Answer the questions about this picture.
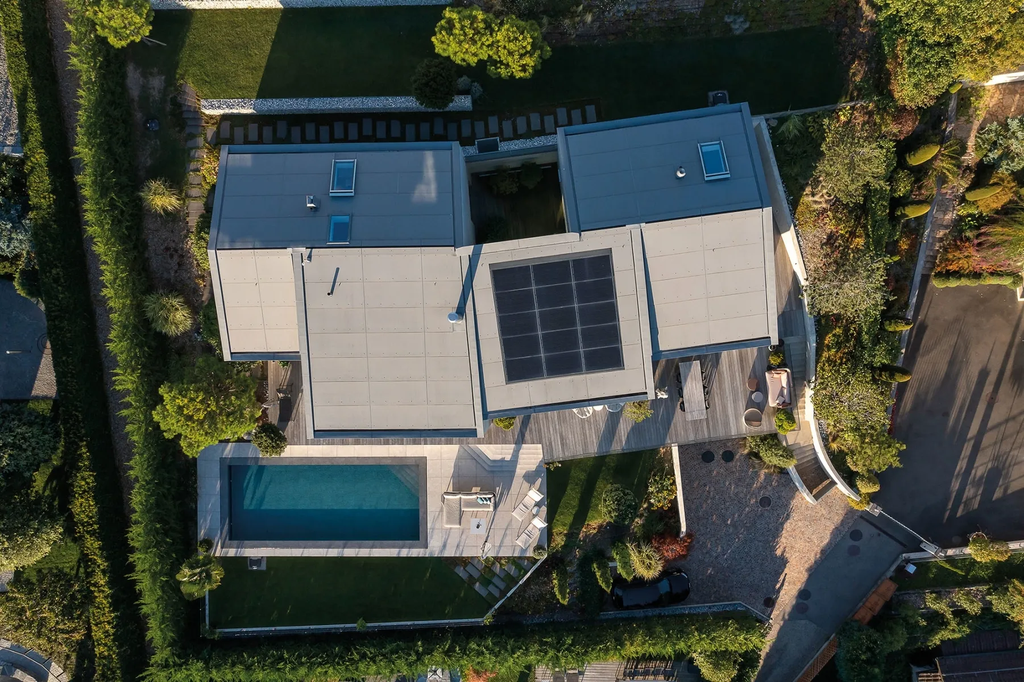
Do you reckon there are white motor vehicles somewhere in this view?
No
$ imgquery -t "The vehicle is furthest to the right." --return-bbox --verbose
[615,574,692,615]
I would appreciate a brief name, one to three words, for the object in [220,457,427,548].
swimming pool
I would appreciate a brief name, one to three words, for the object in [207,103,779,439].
house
